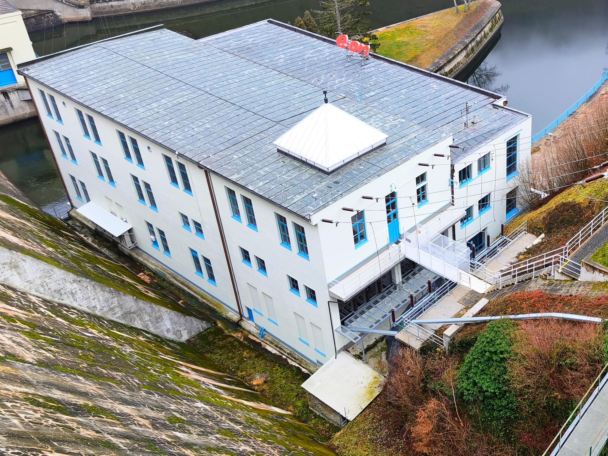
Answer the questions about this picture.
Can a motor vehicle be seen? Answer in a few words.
No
